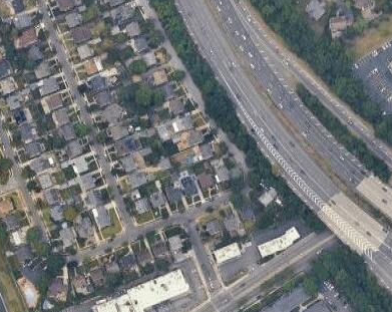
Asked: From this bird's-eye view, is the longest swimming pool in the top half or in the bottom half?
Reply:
bottom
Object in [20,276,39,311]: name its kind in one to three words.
swimming pool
